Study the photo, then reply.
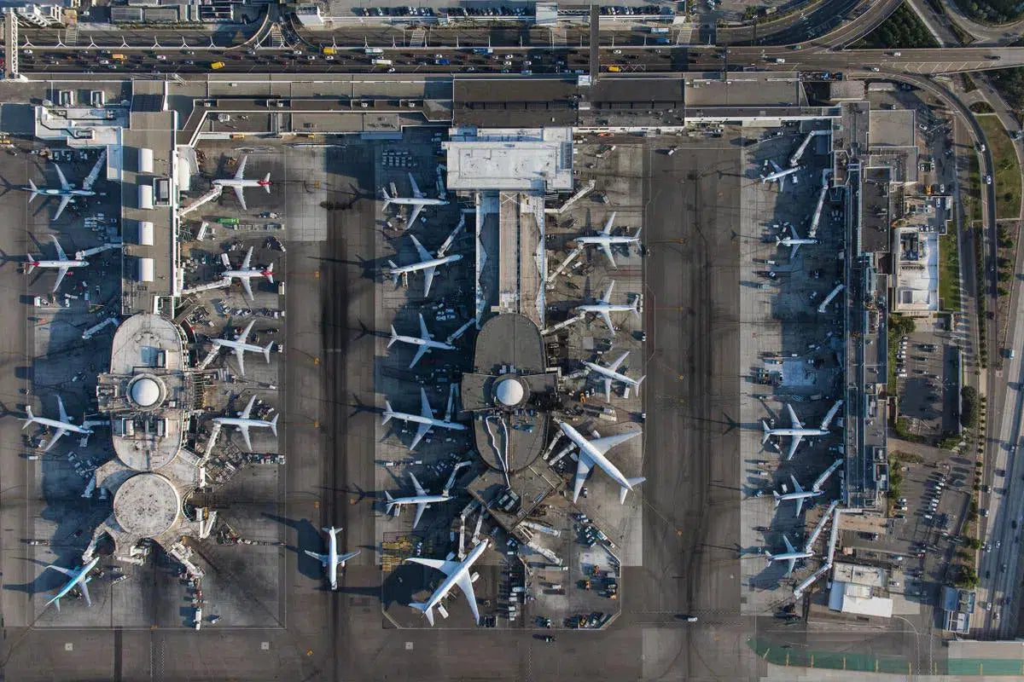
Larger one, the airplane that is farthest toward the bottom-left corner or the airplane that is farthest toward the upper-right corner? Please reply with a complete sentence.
The airplane that is farthest toward the bottom-left corner covers a greater area than the airplane that is farthest toward the upper-right corner.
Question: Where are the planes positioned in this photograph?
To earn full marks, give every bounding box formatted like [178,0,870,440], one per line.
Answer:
[759,157,804,192]
[21,395,94,453]
[584,349,645,401]
[764,535,802,579]
[408,539,488,627]
[385,234,463,296]
[306,523,361,590]
[774,473,824,519]
[379,389,466,451]
[213,393,278,452]
[776,224,821,260]
[383,173,449,229]
[574,211,640,268]
[575,281,639,336]
[764,404,830,461]
[211,318,273,375]
[213,155,274,210]
[560,423,647,505]
[26,162,96,222]
[222,246,276,301]
[385,473,453,529]
[38,557,100,613]
[23,233,89,293]
[389,313,456,369]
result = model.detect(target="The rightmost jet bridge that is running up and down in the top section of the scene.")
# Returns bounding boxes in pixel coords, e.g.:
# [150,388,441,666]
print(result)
[806,168,832,242]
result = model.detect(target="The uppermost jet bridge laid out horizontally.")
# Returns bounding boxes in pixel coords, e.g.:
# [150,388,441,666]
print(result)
[71,243,121,260]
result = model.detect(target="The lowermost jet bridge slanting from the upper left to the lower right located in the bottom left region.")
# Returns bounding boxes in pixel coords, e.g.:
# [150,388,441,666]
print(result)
[169,548,209,583]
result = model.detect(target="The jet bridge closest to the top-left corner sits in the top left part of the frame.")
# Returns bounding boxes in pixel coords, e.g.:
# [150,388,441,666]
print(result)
[80,148,106,195]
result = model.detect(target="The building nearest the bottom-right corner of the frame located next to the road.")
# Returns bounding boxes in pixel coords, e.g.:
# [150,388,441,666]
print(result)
[937,584,976,634]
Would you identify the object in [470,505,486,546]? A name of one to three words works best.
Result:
jet bridge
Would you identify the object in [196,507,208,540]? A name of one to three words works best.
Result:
jet bridge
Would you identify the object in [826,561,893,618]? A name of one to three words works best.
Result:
building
